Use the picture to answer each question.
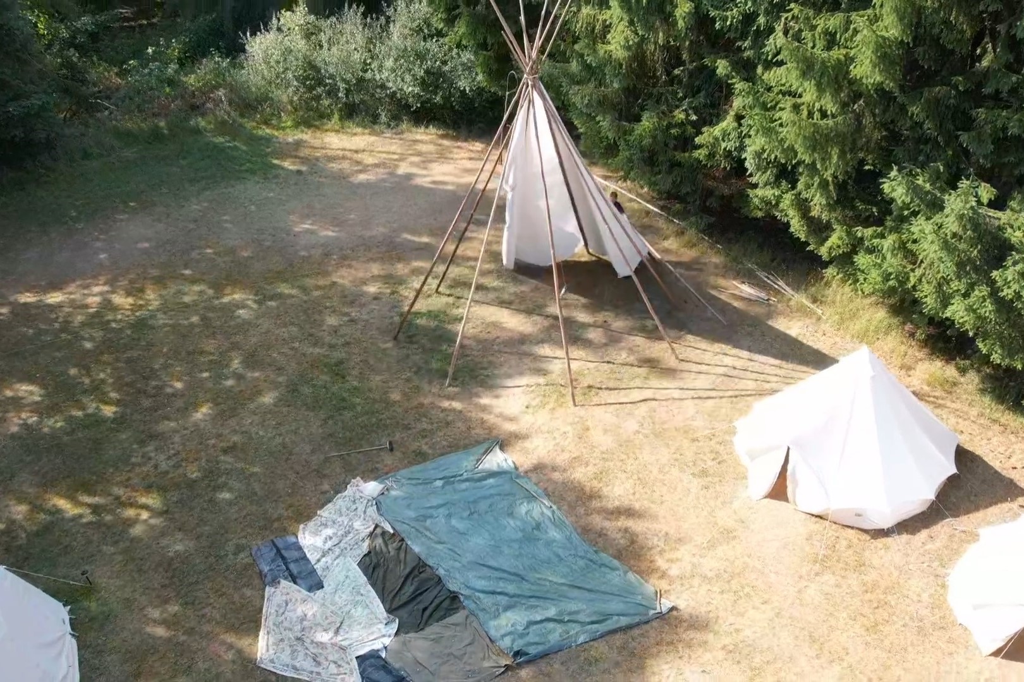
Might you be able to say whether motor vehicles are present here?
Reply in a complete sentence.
No, the frame has no motor vehicle in it.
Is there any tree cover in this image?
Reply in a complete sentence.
Yes, there's tree cover in this view.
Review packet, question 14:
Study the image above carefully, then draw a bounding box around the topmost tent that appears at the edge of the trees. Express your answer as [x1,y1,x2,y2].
[684,344,998,570]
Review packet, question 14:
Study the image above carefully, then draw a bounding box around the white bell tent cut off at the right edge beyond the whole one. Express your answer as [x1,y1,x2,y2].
[877,497,1024,682]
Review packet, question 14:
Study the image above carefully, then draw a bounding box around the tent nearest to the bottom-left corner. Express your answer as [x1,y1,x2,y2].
[0,566,79,682]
